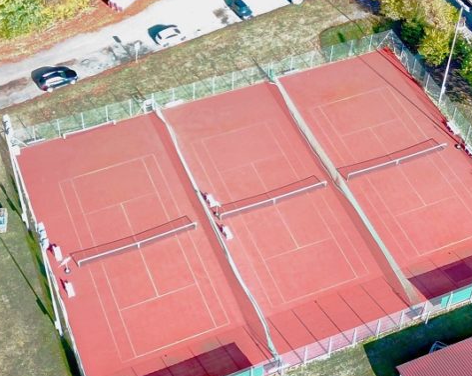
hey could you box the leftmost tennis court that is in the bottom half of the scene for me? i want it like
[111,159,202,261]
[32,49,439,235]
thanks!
[18,111,280,376]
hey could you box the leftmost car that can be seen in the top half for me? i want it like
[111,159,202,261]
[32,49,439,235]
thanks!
[43,67,80,89]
